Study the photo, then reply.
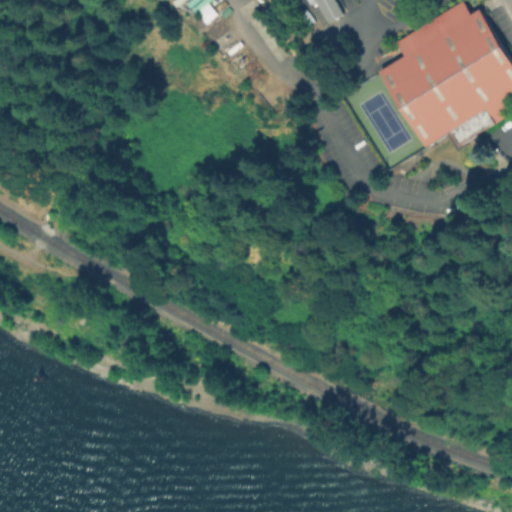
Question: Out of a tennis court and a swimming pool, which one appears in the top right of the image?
tennis court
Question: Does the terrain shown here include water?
Yes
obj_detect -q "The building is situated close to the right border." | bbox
[378,2,512,147]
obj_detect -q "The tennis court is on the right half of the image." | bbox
[347,76,424,169]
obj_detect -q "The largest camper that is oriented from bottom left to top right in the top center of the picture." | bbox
[228,42,245,55]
